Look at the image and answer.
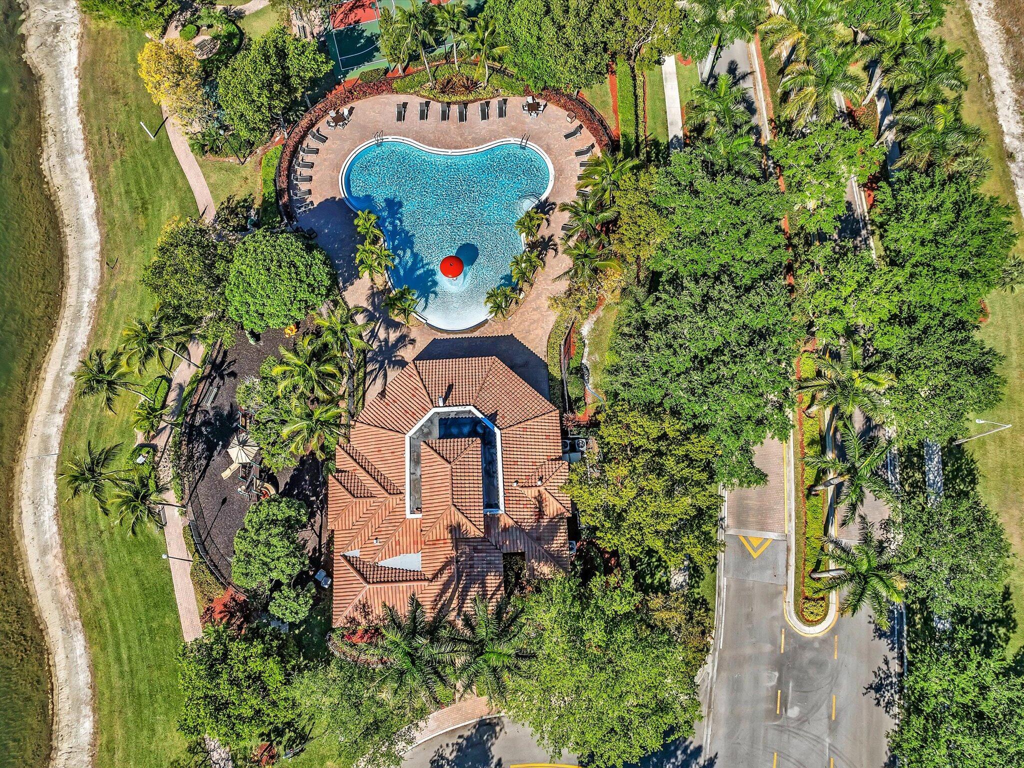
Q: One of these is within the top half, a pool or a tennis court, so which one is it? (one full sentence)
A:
Visible within the top half is a pool.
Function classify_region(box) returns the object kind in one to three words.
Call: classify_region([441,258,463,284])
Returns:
fountain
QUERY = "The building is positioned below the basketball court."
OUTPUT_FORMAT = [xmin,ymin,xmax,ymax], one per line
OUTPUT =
[327,356,573,628]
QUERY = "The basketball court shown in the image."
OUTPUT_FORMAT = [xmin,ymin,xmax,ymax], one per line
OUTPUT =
[309,0,562,82]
